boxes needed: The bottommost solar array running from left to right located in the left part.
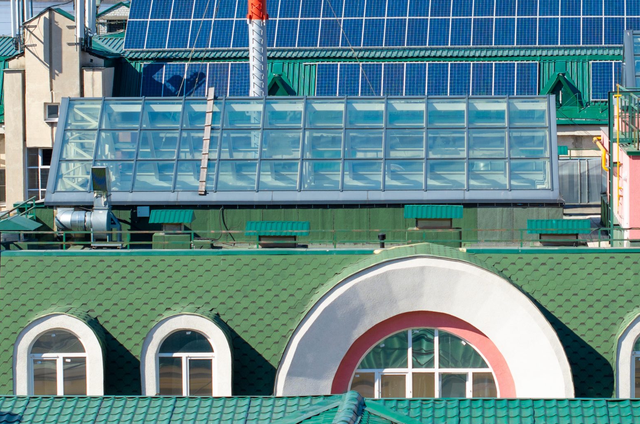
[139,64,248,98]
